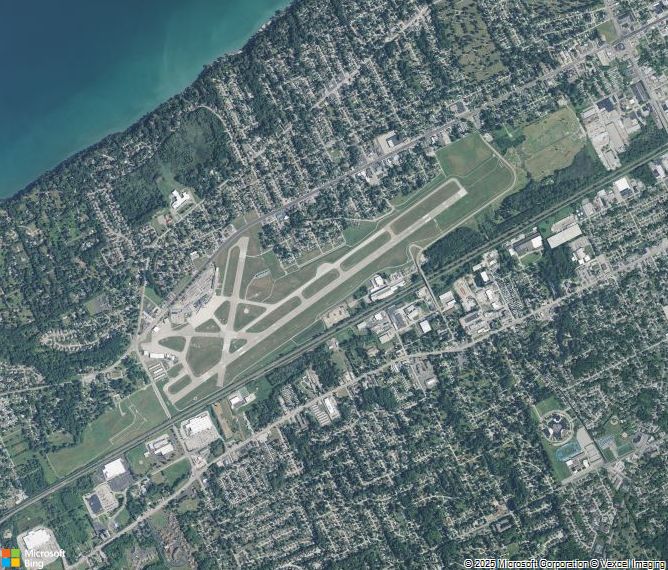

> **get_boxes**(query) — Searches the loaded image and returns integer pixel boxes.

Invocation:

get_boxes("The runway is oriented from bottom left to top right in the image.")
[169,191,463,404]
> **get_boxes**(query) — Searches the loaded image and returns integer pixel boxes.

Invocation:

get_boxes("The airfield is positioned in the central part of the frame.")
[139,130,514,416]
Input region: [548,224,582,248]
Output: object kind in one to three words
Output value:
building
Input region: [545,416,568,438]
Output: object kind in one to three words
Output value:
building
